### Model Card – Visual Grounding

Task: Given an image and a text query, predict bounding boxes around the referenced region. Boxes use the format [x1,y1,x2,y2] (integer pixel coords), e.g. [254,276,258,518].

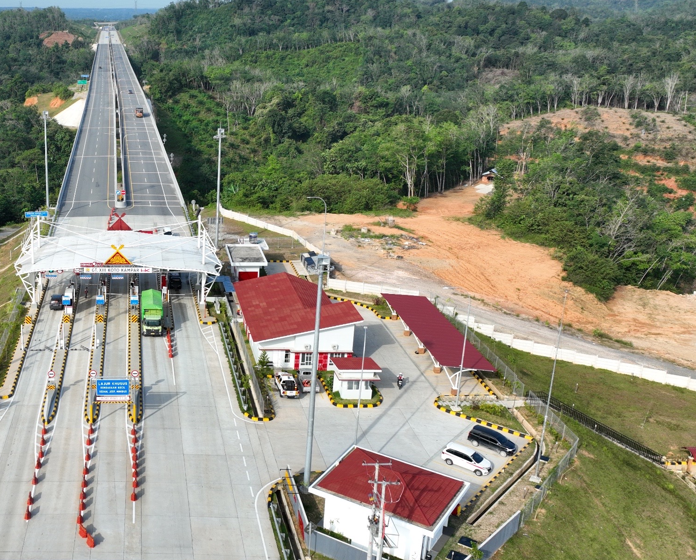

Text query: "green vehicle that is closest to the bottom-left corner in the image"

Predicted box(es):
[140,291,165,333]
